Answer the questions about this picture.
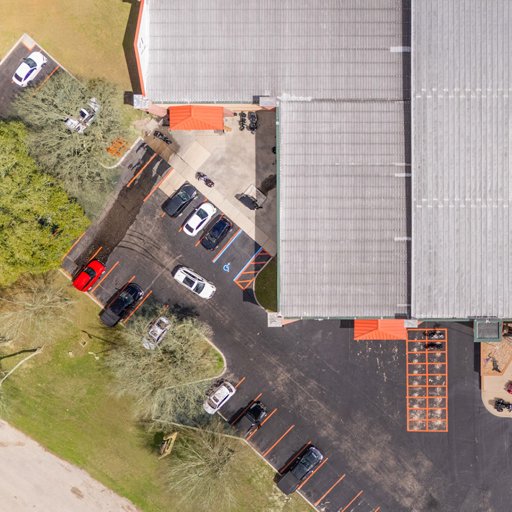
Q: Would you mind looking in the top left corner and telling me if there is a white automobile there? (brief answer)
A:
Yes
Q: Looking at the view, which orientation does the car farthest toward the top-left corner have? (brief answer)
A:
diagonally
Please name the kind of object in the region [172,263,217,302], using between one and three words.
car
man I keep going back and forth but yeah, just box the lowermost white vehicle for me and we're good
[200,377,239,417]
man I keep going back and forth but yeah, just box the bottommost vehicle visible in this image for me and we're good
[275,446,325,496]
